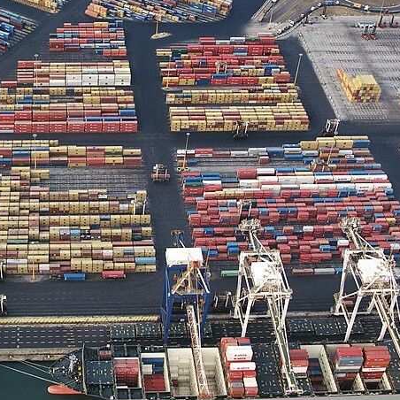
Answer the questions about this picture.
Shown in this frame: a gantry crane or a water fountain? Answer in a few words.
gantry crane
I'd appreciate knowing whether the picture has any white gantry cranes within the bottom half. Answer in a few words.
Yes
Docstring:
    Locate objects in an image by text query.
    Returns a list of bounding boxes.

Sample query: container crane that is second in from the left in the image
[233,219,301,388]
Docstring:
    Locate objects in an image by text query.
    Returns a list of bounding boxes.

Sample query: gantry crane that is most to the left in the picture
[156,213,216,397]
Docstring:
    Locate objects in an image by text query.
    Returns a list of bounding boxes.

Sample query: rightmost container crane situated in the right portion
[337,217,400,353]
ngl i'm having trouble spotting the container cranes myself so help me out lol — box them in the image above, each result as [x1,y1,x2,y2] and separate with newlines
[337,217,400,353]
[156,213,216,397]
[233,219,301,388]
